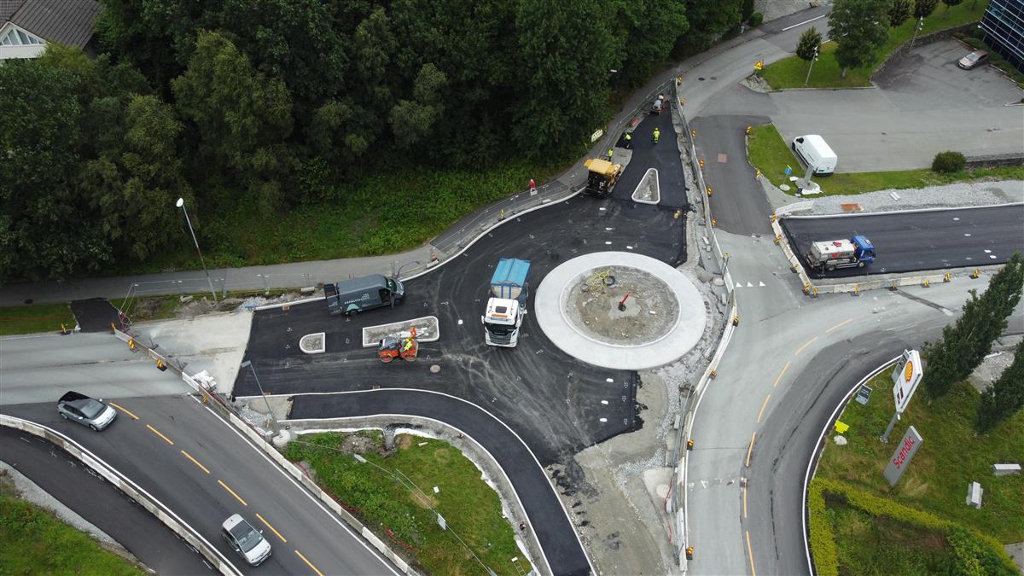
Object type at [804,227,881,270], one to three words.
truck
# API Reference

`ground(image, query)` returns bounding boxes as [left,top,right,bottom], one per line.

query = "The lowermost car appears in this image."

[218,504,273,566]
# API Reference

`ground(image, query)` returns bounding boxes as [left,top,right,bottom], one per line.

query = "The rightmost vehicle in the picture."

[954,49,991,68]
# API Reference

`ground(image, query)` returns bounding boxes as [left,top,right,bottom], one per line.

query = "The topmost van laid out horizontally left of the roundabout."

[326,272,408,314]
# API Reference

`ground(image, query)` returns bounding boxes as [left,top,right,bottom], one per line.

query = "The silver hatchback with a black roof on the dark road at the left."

[53,391,115,432]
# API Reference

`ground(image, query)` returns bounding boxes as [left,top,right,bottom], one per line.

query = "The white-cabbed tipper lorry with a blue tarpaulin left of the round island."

[481,257,530,349]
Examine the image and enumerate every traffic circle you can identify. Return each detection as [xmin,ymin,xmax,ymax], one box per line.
[535,251,707,371]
